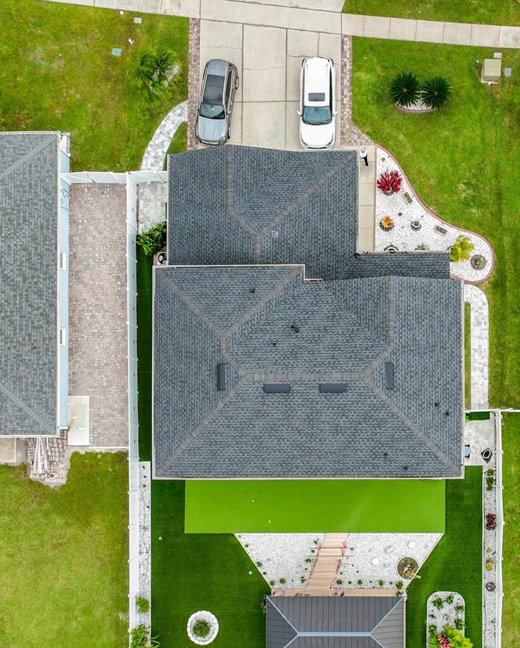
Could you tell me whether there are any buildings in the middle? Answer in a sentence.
Yes, a building appears in the middle.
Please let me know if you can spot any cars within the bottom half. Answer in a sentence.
No, there's no car to be seen within the bottom half.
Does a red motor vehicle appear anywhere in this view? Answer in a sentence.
No, the photo shows no red motor vehicle.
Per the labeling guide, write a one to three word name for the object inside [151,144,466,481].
house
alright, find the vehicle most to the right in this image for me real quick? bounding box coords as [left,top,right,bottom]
[295,57,341,146]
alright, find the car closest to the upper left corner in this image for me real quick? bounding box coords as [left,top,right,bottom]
[193,57,240,147]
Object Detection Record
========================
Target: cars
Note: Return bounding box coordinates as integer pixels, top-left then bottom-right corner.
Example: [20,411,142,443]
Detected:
[295,57,341,146]
[193,57,240,147]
